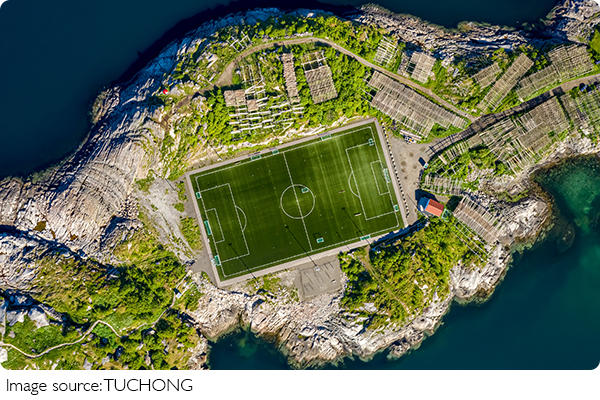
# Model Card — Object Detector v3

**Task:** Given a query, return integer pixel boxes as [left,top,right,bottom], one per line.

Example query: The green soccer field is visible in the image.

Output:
[183,114,412,288]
